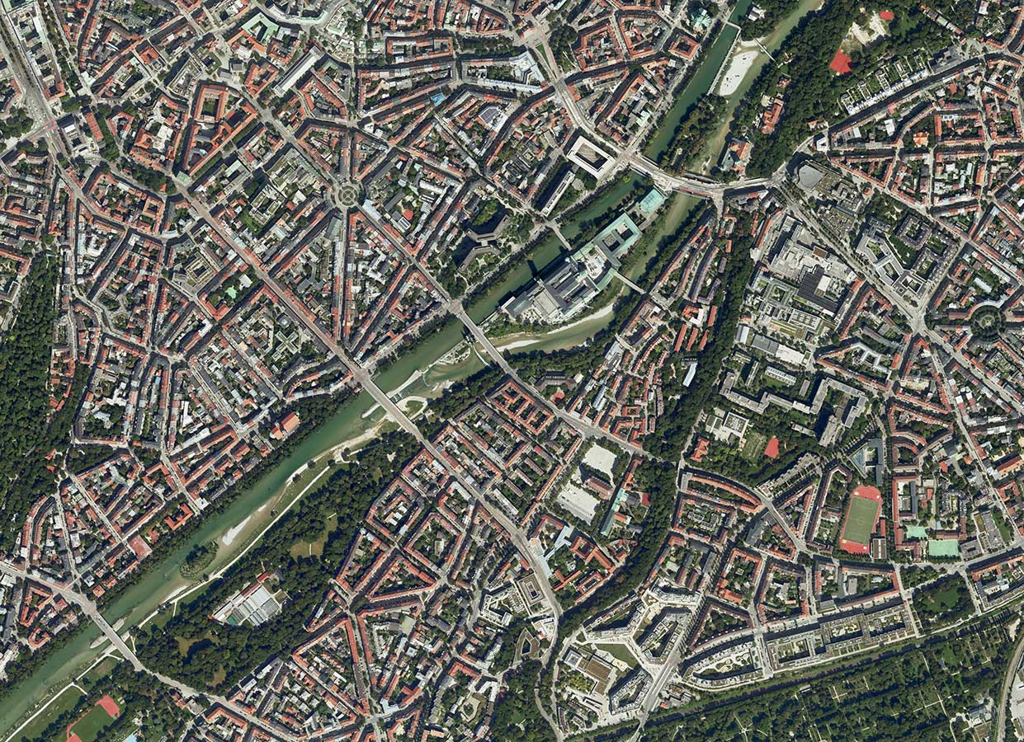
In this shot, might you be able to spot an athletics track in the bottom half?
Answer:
Yes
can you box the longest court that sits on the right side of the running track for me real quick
[929,540,959,555]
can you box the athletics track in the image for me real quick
[840,486,882,554]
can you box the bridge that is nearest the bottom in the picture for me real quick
[86,606,144,671]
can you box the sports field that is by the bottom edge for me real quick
[67,696,120,742]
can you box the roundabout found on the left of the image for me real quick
[331,180,362,210]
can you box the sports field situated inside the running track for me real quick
[844,497,879,544]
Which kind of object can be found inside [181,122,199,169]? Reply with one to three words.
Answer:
building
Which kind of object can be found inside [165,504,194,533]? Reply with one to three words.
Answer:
building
